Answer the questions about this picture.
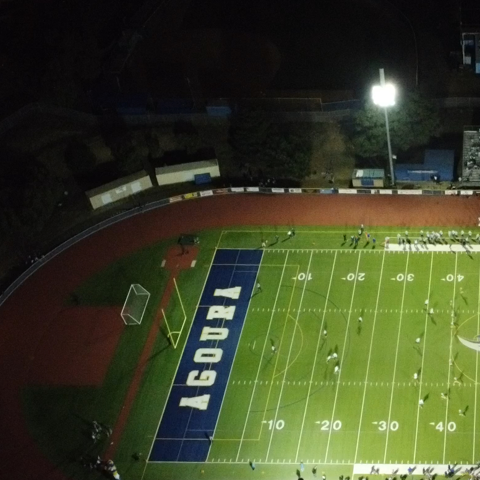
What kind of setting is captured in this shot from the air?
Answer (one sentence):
This image shows a sports ground.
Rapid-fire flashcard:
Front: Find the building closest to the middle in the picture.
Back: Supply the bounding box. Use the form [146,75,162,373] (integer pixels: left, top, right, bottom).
[153,155,220,186]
